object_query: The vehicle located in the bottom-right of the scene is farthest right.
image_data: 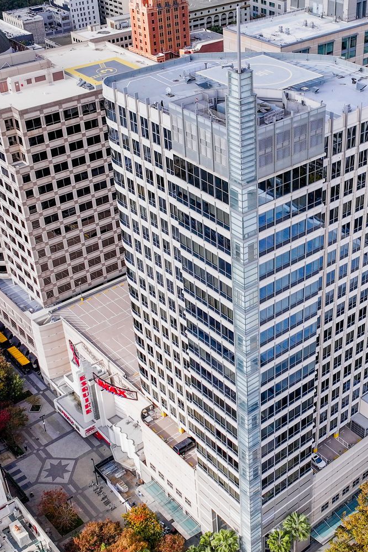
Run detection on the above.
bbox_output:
[312,453,328,467]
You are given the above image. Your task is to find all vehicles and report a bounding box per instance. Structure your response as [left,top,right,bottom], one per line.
[312,453,328,467]
[173,438,194,454]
